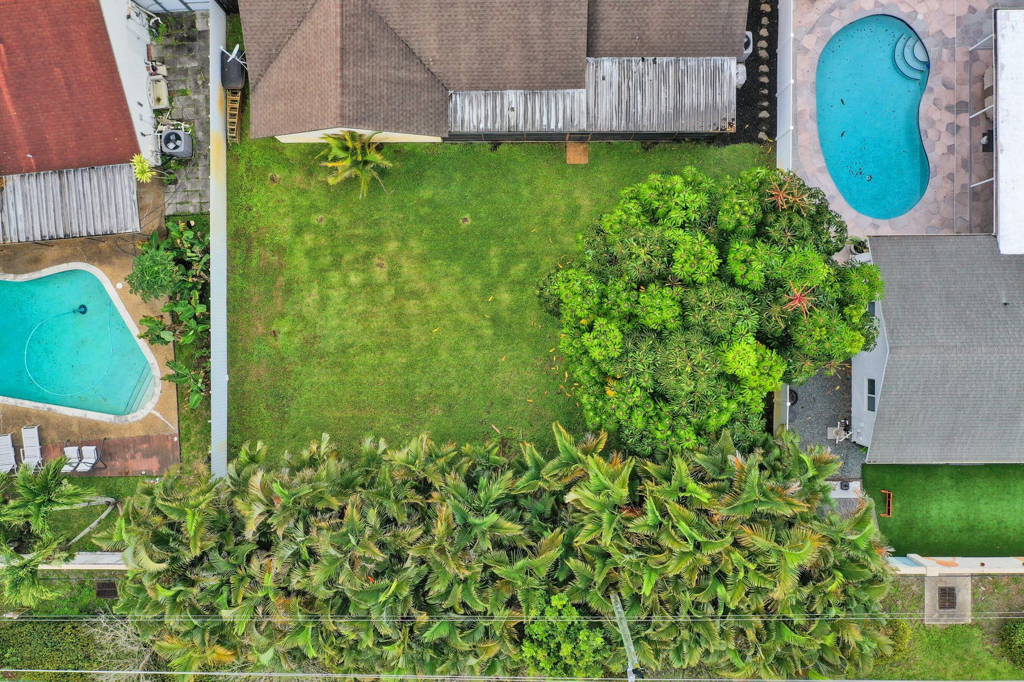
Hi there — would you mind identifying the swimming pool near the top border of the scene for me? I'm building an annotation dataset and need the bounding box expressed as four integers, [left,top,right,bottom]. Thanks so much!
[816,14,930,220]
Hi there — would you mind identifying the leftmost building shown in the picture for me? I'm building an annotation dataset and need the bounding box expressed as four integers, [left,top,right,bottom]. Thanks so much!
[0,0,165,254]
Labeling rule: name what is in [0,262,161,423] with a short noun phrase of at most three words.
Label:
swimming pool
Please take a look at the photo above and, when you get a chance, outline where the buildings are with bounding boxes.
[852,233,1024,466]
[0,0,165,254]
[238,0,751,143]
